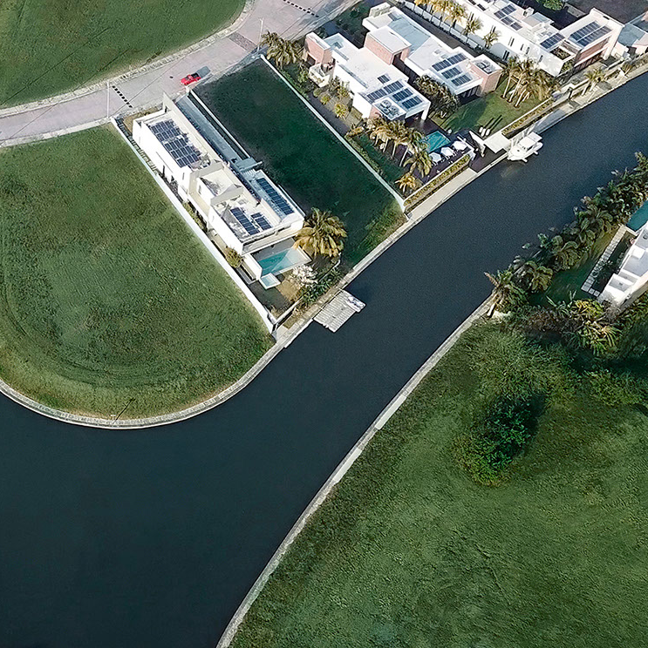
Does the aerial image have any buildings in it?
Yes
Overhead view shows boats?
Yes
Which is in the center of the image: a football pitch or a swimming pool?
swimming pool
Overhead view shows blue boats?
No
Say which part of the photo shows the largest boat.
top right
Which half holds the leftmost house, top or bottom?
top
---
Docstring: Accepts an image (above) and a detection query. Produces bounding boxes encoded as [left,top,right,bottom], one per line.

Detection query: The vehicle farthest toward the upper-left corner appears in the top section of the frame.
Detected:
[178,66,204,85]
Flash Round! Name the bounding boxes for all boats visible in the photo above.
[508,122,548,158]
[346,298,366,314]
